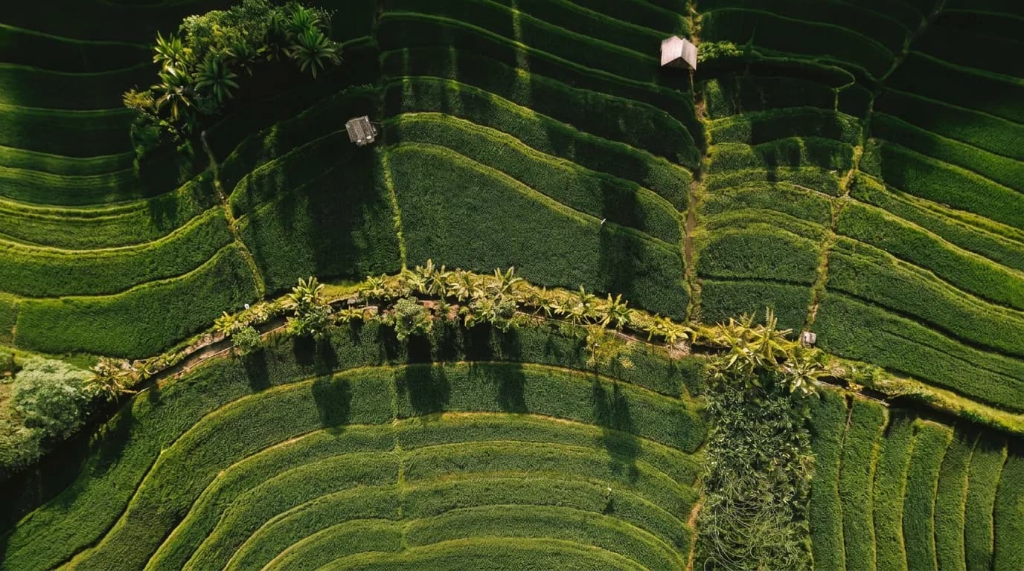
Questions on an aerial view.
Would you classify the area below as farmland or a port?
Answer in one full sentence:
The area seen from above is farmland.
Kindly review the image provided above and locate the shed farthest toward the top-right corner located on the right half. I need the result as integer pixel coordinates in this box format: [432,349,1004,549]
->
[661,33,698,77]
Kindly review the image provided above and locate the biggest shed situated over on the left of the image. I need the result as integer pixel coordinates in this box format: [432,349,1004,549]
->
[347,116,385,151]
